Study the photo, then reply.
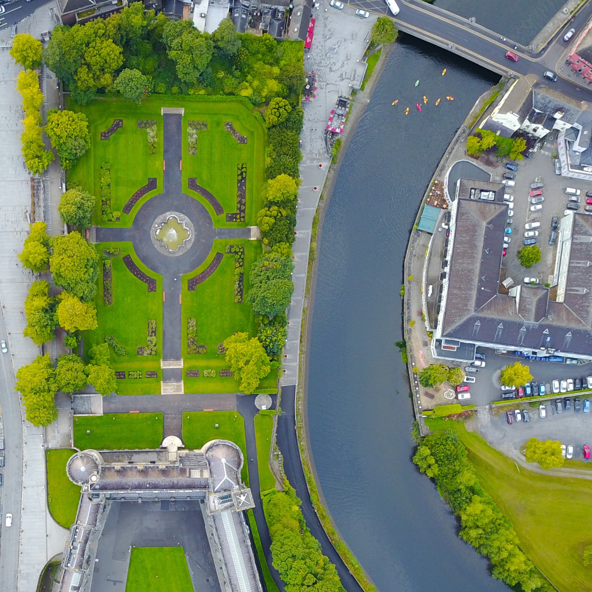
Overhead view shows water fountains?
Yes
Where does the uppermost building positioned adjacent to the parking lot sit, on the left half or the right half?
right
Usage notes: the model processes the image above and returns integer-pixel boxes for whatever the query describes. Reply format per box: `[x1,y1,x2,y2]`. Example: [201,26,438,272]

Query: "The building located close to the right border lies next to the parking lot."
[432,160,592,362]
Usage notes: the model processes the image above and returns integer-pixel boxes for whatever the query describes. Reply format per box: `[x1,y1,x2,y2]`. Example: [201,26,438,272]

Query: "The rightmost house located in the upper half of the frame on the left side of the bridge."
[287,0,318,50]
